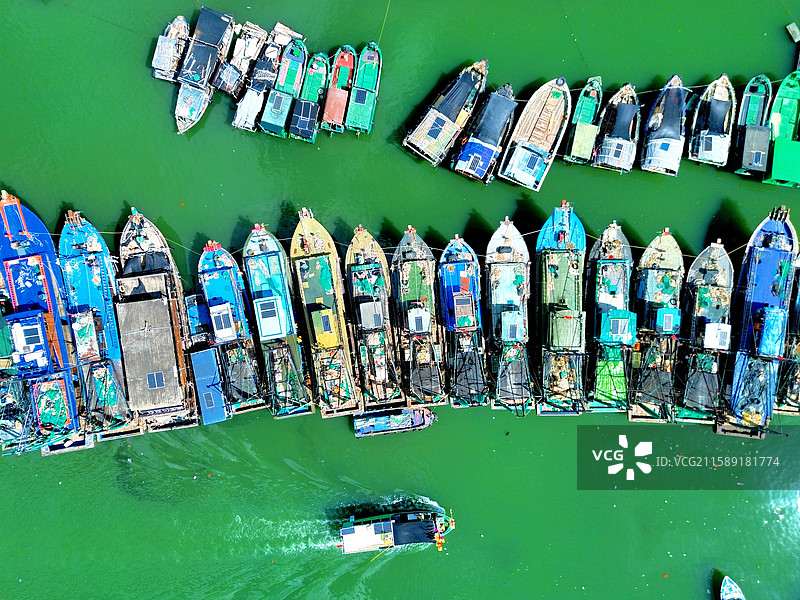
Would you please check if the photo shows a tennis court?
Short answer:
No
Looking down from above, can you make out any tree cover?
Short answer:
No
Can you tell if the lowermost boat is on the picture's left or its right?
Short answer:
right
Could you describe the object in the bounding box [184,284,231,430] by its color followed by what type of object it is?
blue boat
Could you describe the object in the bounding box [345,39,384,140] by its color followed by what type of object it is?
green boat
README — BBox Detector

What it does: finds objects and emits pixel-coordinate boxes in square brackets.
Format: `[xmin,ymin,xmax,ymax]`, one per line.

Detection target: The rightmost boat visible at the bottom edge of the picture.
[716,573,748,600]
